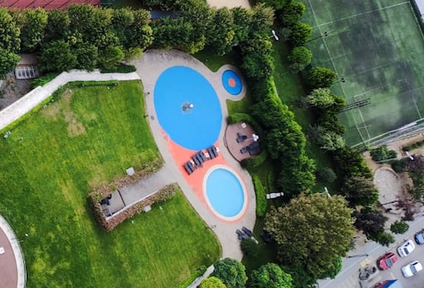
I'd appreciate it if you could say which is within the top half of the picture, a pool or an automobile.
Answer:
pool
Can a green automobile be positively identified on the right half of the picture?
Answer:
No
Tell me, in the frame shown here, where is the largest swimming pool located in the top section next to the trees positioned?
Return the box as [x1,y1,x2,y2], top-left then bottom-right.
[153,66,223,150]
